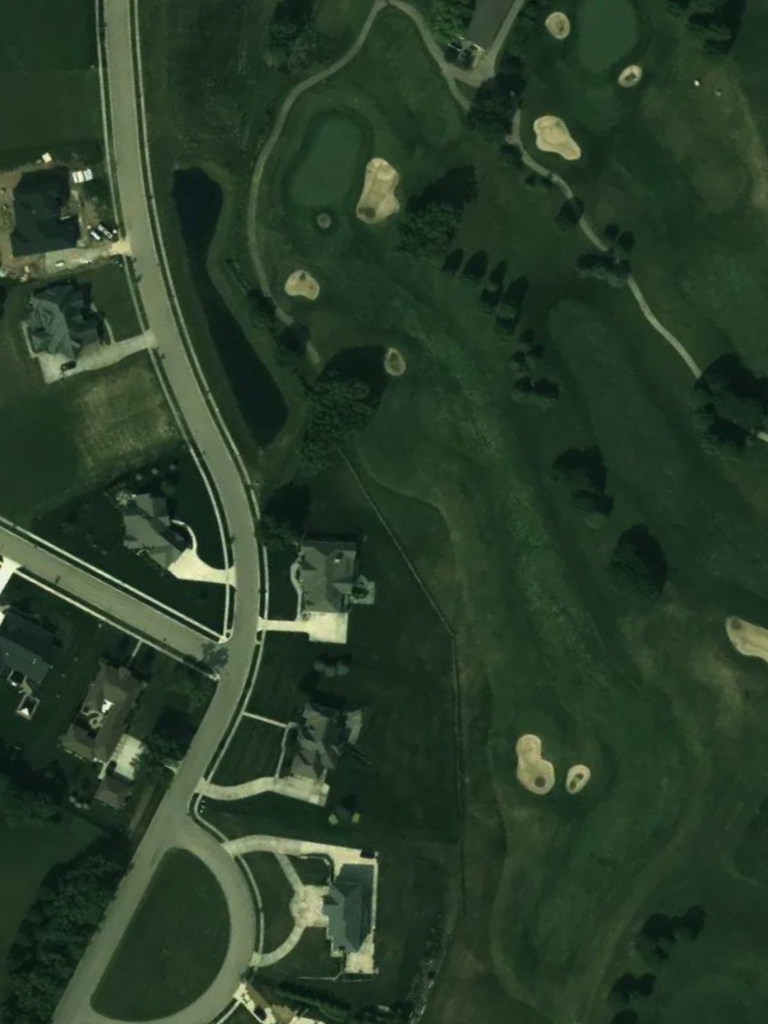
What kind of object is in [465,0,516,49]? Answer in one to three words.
building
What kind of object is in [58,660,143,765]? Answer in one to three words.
house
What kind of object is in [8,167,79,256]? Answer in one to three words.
house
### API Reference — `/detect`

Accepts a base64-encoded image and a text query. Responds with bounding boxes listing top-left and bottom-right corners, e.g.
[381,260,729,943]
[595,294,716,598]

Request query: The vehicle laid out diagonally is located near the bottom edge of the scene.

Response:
[252,1006,268,1020]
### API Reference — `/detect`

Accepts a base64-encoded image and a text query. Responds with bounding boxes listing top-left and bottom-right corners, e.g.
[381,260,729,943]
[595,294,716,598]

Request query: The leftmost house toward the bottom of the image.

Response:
[0,608,54,683]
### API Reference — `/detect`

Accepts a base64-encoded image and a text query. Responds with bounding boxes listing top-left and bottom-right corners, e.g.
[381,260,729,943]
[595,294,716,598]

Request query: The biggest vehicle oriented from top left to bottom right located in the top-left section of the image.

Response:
[97,222,114,240]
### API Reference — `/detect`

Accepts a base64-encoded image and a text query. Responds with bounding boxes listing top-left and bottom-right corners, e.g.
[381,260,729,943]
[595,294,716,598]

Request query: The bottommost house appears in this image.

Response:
[322,864,373,953]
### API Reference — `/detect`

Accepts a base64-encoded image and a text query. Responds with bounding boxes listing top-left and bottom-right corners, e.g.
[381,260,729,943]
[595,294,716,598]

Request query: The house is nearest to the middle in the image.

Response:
[299,542,359,619]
